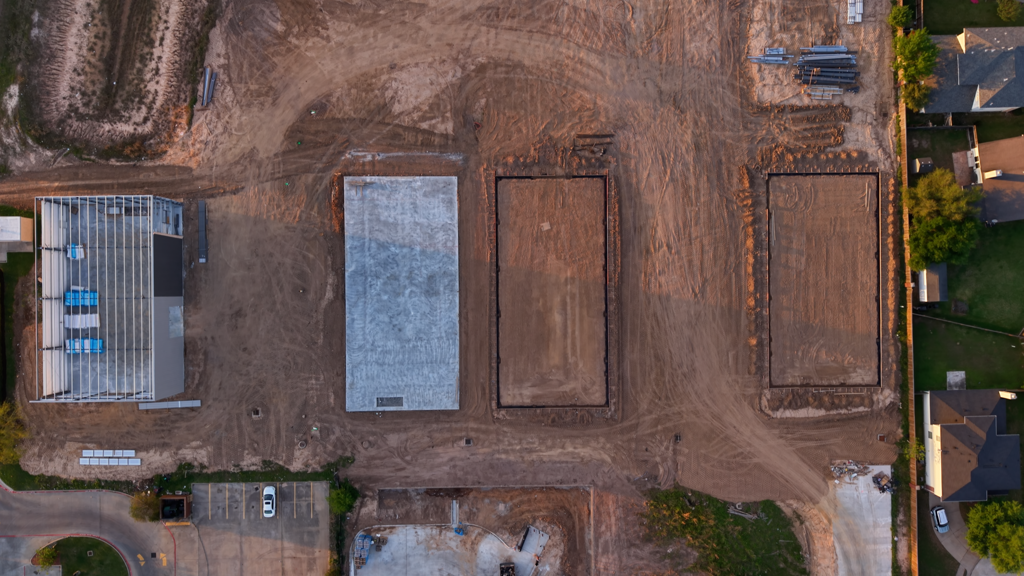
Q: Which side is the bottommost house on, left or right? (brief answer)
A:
right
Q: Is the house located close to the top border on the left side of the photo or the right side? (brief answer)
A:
right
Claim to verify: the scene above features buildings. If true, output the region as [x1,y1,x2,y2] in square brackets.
[28,194,185,403]
[959,135,1024,224]
[0,216,33,242]
[918,27,1024,113]
[916,263,951,302]
[911,157,936,174]
[922,389,1021,502]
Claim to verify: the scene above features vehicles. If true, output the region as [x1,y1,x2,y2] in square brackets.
[261,486,276,518]
[931,502,950,531]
